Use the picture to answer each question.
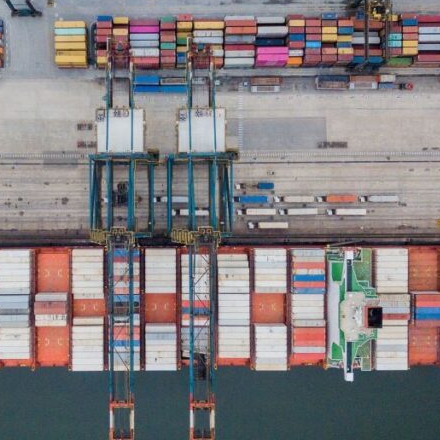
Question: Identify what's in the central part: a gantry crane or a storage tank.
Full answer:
You can see a gantry crane in the central part.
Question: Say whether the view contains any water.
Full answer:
Yes, water can be seen from above here.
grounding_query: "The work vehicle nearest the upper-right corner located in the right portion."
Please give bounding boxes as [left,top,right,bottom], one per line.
[396,78,421,94]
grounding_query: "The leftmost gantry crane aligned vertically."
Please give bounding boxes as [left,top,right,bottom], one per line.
[88,44,166,440]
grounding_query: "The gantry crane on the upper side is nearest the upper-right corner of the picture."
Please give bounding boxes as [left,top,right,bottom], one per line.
[346,0,392,78]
